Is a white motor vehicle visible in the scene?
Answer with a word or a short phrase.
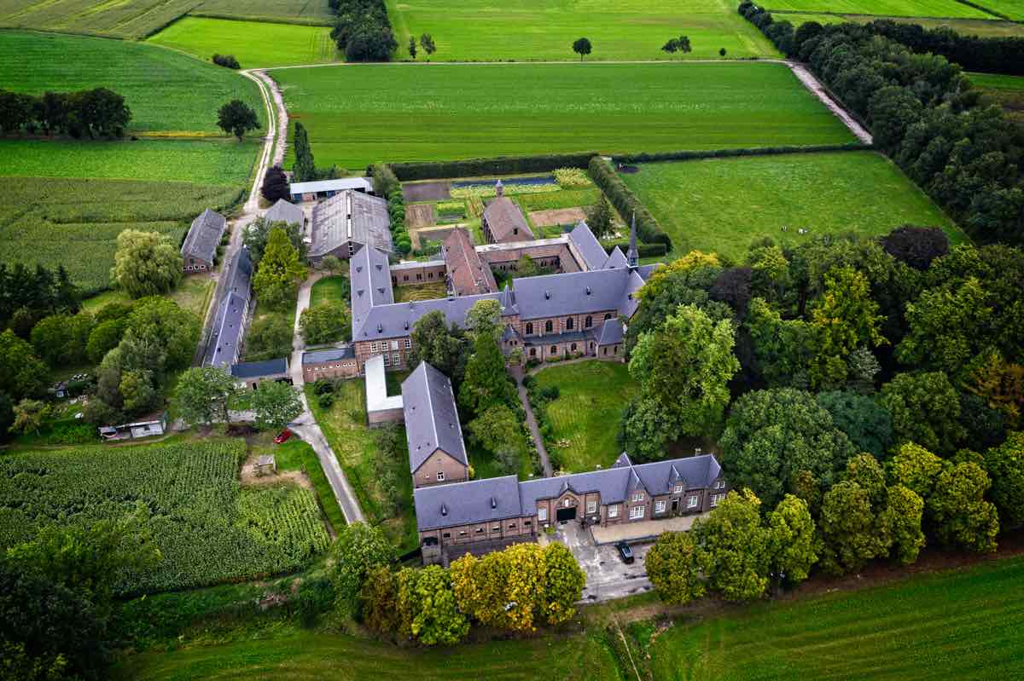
No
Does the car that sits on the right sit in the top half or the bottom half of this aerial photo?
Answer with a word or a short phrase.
bottom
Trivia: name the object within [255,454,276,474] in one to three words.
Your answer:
shed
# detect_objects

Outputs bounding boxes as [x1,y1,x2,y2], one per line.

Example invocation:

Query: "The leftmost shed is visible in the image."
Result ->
[48,379,73,397]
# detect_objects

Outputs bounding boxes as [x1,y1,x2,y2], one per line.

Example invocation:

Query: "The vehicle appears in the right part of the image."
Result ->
[612,537,638,566]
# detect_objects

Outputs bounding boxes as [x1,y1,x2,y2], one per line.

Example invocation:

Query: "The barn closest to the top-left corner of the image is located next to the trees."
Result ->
[180,209,229,275]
